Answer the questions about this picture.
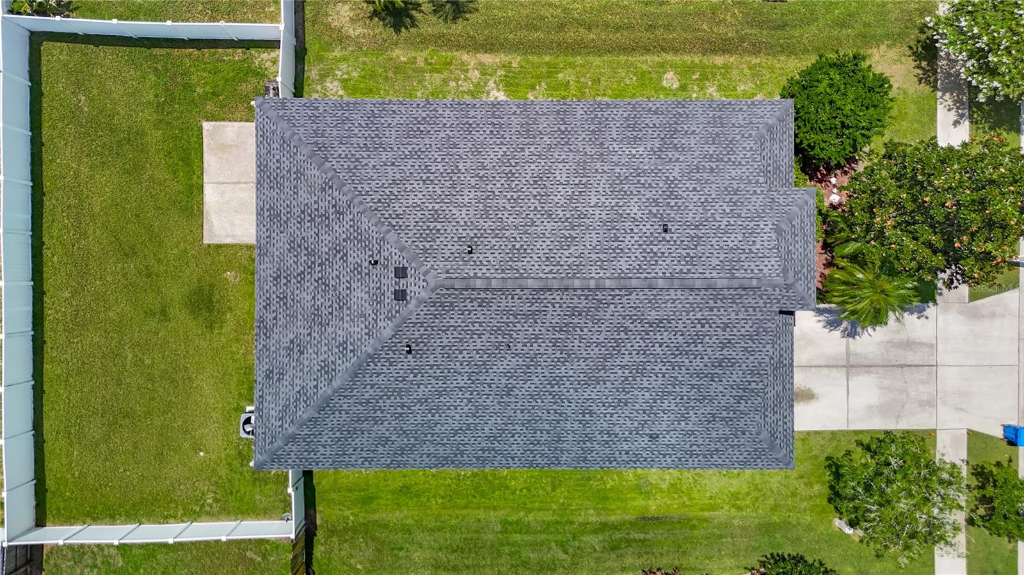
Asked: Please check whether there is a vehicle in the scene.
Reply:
No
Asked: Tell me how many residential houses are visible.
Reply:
one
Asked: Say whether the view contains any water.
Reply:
No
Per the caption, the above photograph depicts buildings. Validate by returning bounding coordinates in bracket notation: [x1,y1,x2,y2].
[252,95,819,472]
